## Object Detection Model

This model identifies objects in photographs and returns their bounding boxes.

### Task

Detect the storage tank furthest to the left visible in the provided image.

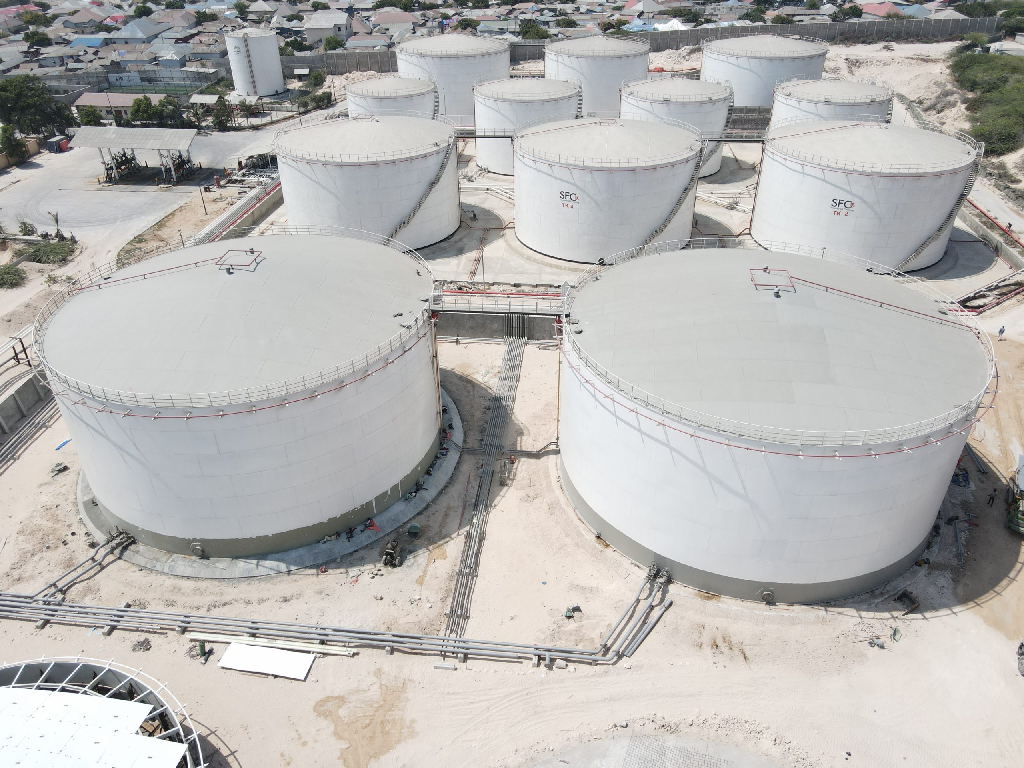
[0,648,215,768]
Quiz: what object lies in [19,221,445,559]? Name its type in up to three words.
storage tank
